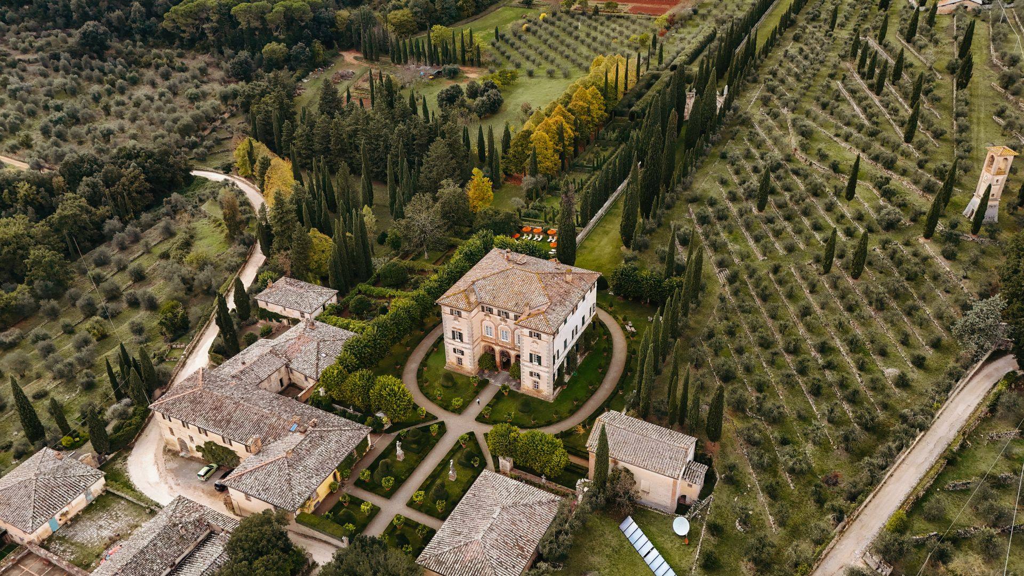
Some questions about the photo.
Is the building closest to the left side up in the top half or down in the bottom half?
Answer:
bottom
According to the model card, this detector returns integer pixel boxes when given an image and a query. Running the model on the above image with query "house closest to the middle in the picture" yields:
[435,247,604,402]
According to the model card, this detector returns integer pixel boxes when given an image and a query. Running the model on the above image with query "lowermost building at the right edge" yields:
[958,142,1021,222]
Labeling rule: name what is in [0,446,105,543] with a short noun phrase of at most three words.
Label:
building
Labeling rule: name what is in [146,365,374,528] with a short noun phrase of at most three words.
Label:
building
